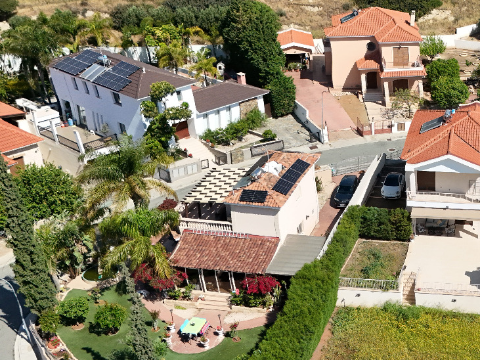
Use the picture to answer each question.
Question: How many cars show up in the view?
2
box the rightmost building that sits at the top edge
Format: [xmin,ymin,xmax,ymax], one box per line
[321,5,430,113]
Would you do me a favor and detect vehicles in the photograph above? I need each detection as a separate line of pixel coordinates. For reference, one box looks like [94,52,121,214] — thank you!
[329,169,360,204]
[365,169,402,207]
